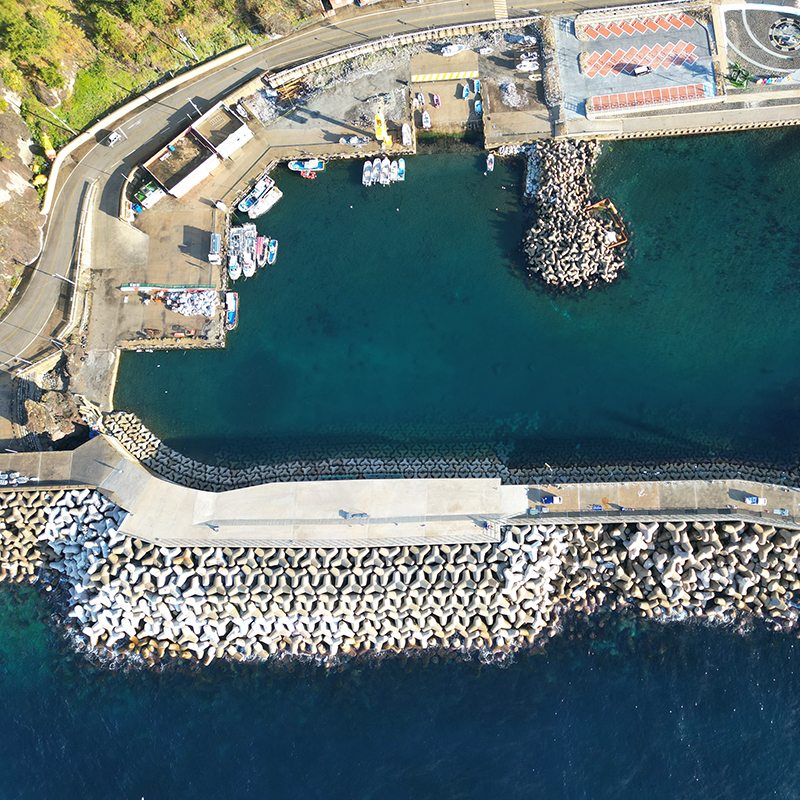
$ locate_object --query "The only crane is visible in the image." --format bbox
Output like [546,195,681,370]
[373,97,392,148]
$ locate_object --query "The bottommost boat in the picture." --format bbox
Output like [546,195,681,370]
[227,293,241,330]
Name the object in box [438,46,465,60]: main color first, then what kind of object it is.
white boat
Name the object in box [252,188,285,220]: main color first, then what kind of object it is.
white boat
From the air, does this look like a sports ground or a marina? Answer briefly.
marina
